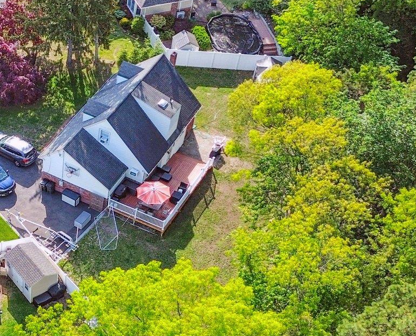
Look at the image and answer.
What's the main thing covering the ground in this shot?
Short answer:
trees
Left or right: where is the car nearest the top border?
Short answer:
left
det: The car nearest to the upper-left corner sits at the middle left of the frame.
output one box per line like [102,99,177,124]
[0,136,38,167]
